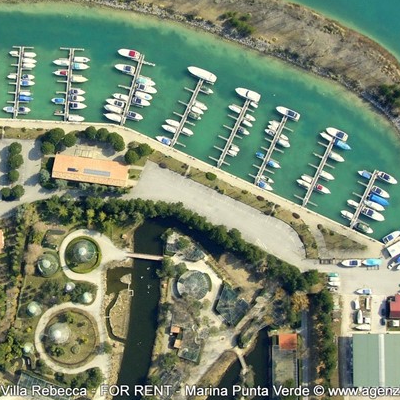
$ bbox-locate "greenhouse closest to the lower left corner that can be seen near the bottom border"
[18,372,72,400]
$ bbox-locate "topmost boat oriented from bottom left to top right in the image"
[382,232,400,245]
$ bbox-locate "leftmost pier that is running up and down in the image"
[8,46,34,119]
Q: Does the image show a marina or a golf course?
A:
marina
